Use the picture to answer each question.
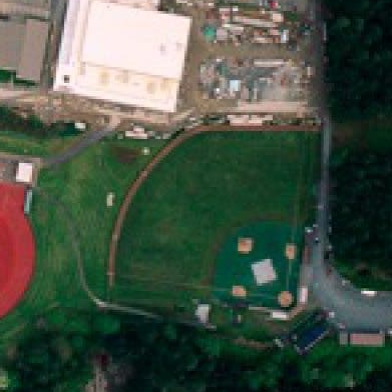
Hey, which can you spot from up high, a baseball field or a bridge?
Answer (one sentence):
The image shows a baseball field.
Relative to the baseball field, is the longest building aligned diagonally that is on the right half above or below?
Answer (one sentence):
It's below the baseball field that the longest building aligned diagonally that is on the right half shows up.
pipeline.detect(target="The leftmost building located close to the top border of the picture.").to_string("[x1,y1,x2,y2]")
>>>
[0,19,49,83]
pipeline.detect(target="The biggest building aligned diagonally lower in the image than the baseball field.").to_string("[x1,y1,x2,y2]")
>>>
[295,325,331,354]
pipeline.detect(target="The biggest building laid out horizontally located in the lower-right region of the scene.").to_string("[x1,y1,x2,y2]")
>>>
[350,334,384,346]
